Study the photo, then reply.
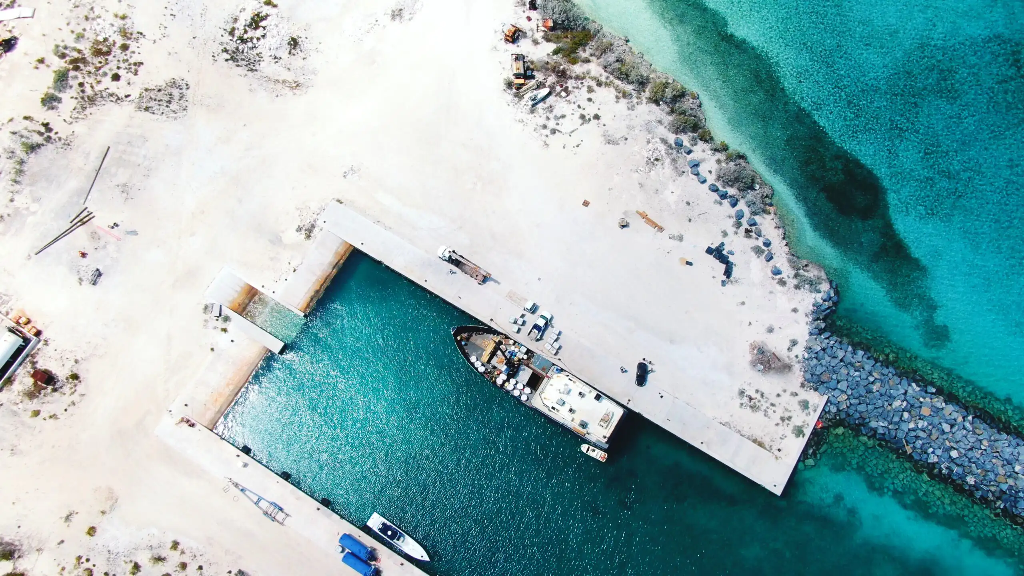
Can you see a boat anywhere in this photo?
Yes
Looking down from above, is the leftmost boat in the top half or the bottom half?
bottom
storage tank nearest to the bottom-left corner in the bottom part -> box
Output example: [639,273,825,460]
[0,326,32,378]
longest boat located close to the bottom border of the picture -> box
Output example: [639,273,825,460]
[367,512,431,561]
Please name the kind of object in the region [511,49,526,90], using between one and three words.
vehicle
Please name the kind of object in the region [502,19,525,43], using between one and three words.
work vehicle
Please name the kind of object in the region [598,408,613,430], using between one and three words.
boat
